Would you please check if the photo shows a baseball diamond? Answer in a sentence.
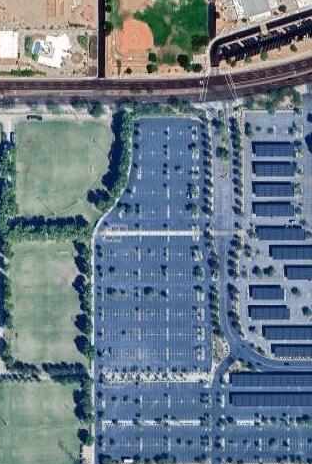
Yes, this view includes a baseball diamond.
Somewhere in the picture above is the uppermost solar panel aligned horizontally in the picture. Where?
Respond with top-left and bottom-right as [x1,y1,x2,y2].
[254,143,294,156]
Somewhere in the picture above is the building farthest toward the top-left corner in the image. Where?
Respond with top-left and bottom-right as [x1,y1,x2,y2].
[0,31,18,58]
